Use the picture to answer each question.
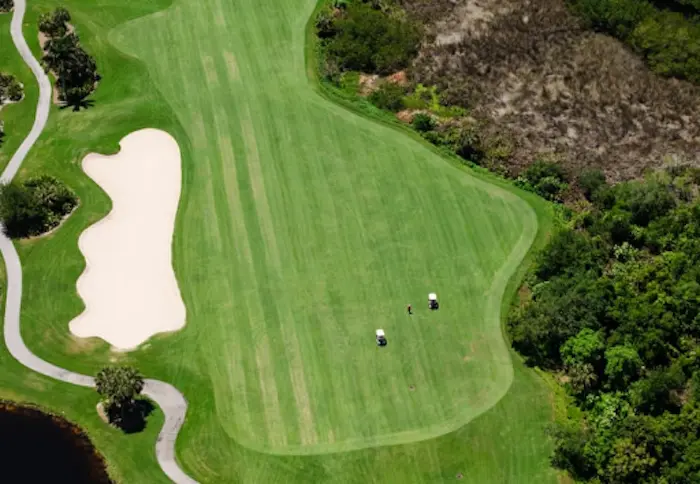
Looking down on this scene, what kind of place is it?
golf course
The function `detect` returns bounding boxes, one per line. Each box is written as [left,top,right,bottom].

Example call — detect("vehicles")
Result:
[429,294,440,311]
[377,330,388,348]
